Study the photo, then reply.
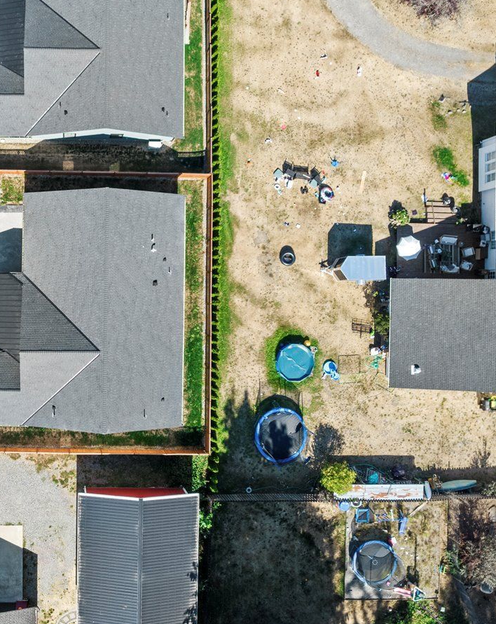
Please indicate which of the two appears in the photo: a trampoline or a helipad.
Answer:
trampoline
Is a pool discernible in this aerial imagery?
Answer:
Yes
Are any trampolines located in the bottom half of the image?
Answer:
Yes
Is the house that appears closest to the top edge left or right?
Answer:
left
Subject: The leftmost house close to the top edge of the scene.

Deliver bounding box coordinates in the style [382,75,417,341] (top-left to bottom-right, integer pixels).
[0,0,186,142]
